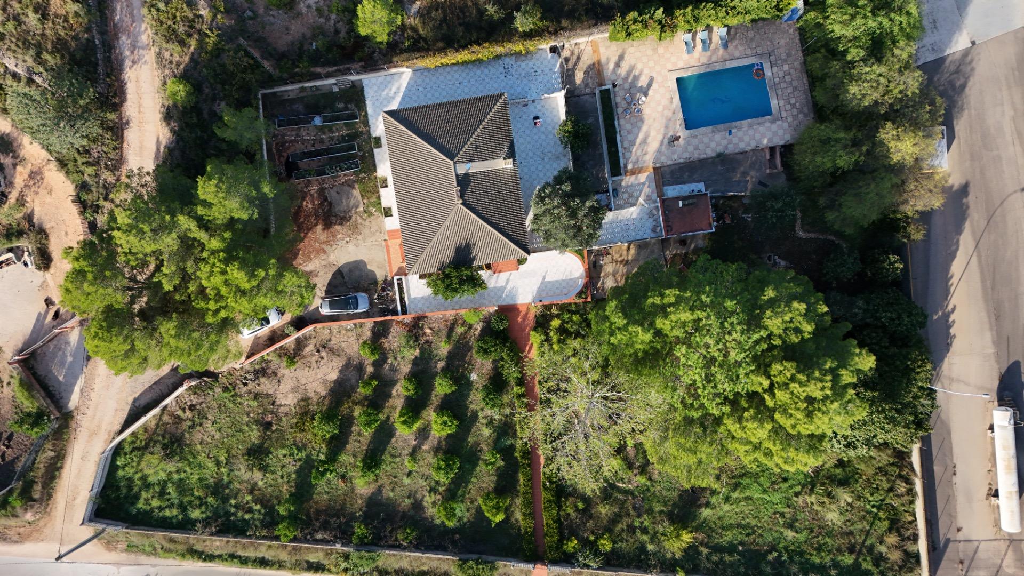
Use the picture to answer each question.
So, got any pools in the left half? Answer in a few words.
No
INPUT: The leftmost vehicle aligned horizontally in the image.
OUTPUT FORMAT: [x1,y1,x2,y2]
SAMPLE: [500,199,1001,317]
[320,290,370,315]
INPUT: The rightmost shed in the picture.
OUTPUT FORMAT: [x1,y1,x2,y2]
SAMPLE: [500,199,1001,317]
[924,126,949,173]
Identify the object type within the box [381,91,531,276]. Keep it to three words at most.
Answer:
house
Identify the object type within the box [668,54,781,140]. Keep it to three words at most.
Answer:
swimming pool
